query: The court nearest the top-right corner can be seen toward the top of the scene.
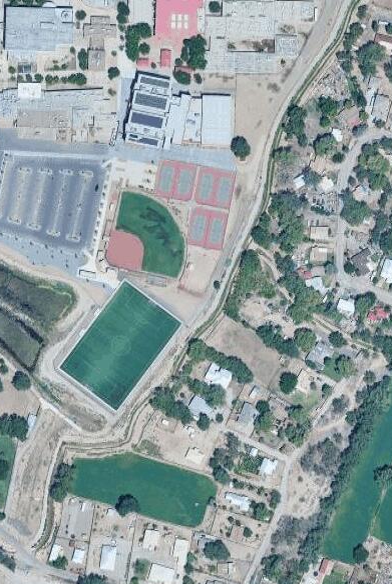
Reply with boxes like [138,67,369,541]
[196,167,236,209]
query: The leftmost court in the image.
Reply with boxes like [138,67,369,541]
[155,160,197,200]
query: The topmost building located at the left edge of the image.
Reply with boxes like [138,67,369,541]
[5,5,73,50]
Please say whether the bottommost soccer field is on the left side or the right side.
left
